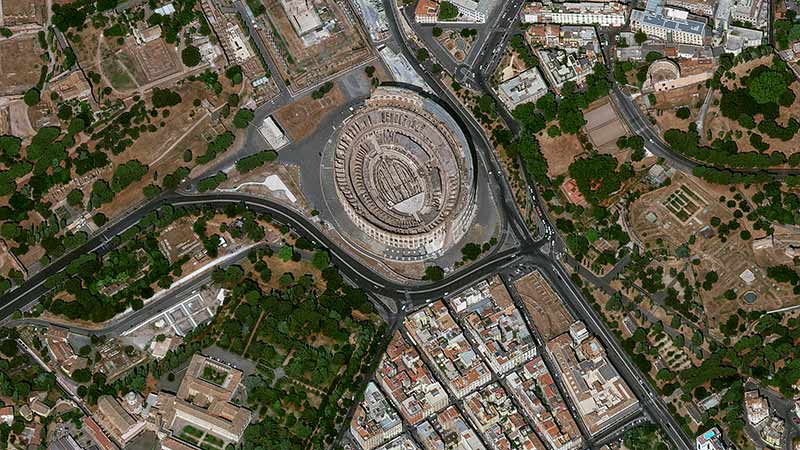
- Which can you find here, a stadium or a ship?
stadium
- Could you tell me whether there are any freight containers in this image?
No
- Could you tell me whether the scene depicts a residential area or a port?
residential area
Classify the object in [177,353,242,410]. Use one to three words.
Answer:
building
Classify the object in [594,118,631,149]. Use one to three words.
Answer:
sports court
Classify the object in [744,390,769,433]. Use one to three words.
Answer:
house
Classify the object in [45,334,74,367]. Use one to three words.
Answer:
house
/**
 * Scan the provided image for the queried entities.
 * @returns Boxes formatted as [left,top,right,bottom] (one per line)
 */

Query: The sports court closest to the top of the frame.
[585,98,619,130]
